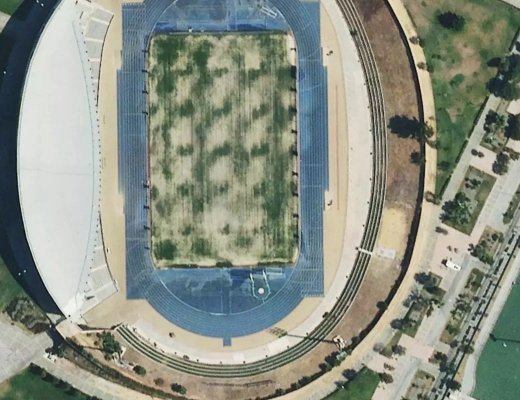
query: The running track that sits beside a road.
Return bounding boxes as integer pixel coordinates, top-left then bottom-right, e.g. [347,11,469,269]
[117,0,328,346]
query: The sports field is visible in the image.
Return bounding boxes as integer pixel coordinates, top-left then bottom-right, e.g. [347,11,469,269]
[150,34,299,268]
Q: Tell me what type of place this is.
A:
sports ground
